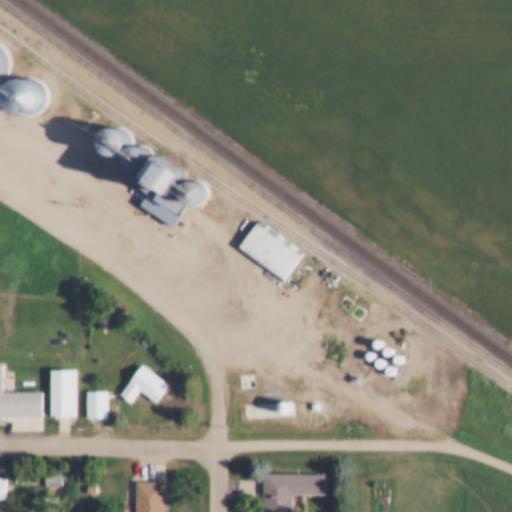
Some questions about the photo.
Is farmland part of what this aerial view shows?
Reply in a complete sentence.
Yes, there's farmland in this view.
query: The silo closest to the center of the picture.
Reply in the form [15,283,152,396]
[180,179,211,207]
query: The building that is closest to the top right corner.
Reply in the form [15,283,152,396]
[240,220,306,282]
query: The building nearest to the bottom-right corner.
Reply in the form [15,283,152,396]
[263,474,328,512]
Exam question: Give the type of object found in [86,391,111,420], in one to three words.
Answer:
building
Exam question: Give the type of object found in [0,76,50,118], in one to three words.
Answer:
silo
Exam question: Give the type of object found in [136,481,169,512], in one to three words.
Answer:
house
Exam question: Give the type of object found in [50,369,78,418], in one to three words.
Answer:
building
